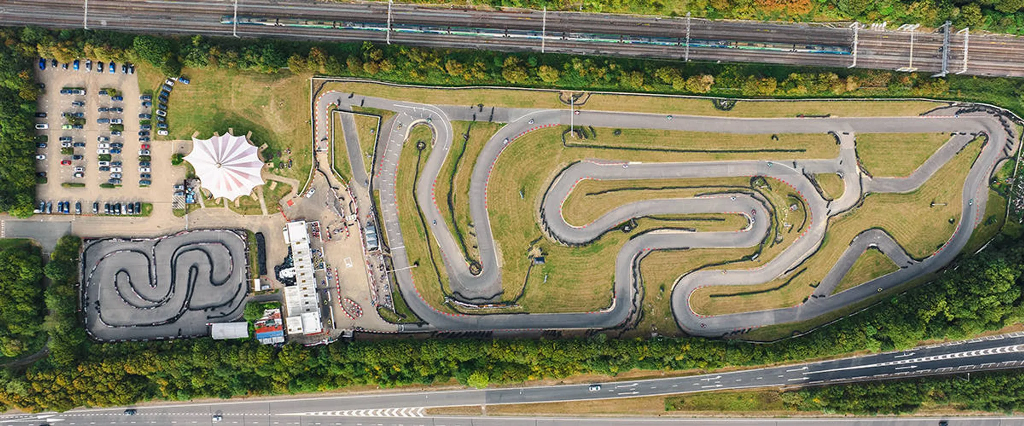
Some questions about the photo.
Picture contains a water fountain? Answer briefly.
No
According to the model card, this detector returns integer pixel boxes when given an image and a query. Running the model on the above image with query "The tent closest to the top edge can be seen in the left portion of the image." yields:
[183,132,264,201]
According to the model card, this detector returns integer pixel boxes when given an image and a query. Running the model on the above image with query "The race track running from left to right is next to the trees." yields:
[380,102,1006,335]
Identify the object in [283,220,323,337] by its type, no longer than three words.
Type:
building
